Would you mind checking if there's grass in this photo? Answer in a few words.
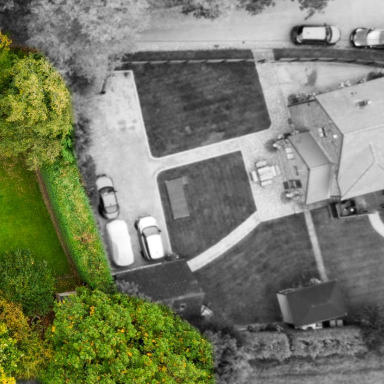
Yes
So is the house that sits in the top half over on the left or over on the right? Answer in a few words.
right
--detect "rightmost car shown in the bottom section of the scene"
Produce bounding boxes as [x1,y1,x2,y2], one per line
[135,214,166,262]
